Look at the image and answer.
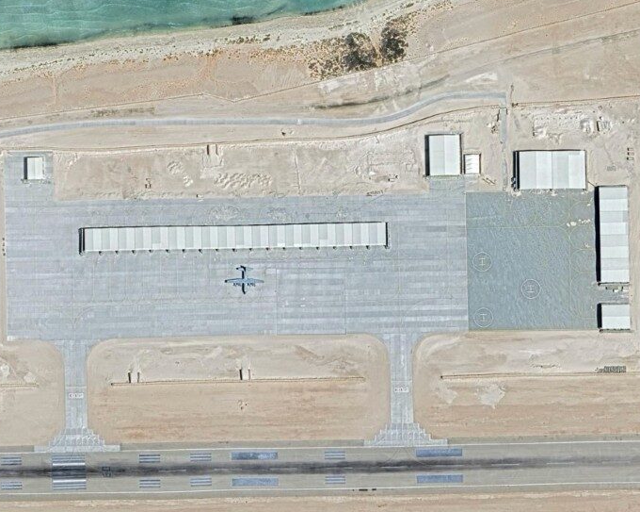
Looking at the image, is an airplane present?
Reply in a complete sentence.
Yes, there's an airplane here.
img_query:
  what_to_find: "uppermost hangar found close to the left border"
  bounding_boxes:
[27,157,44,180]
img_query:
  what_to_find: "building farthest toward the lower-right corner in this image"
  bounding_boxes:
[602,305,632,332]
